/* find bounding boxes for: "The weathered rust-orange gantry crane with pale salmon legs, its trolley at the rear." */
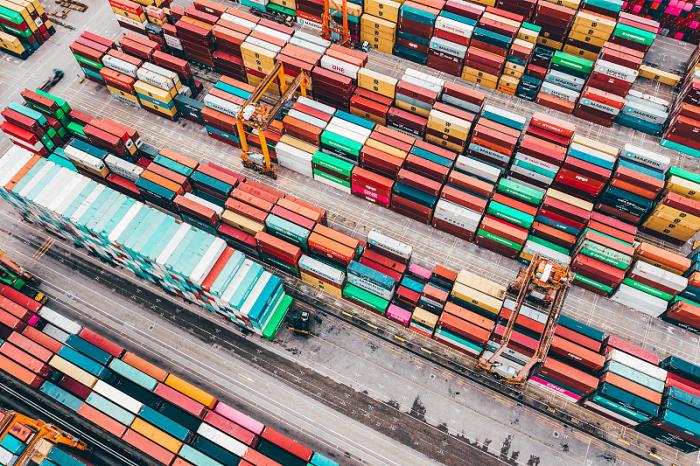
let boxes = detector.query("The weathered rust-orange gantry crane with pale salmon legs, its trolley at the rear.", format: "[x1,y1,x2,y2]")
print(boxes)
[470,247,577,392]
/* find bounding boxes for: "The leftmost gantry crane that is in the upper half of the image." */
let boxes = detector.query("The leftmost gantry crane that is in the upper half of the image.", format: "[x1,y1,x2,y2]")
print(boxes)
[231,59,310,178]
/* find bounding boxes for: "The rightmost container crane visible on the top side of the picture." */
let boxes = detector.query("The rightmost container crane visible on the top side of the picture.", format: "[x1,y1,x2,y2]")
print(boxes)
[319,0,355,46]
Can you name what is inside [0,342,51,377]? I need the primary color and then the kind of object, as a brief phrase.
red shipping container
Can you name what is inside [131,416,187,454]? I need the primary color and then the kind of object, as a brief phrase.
orange shipping container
